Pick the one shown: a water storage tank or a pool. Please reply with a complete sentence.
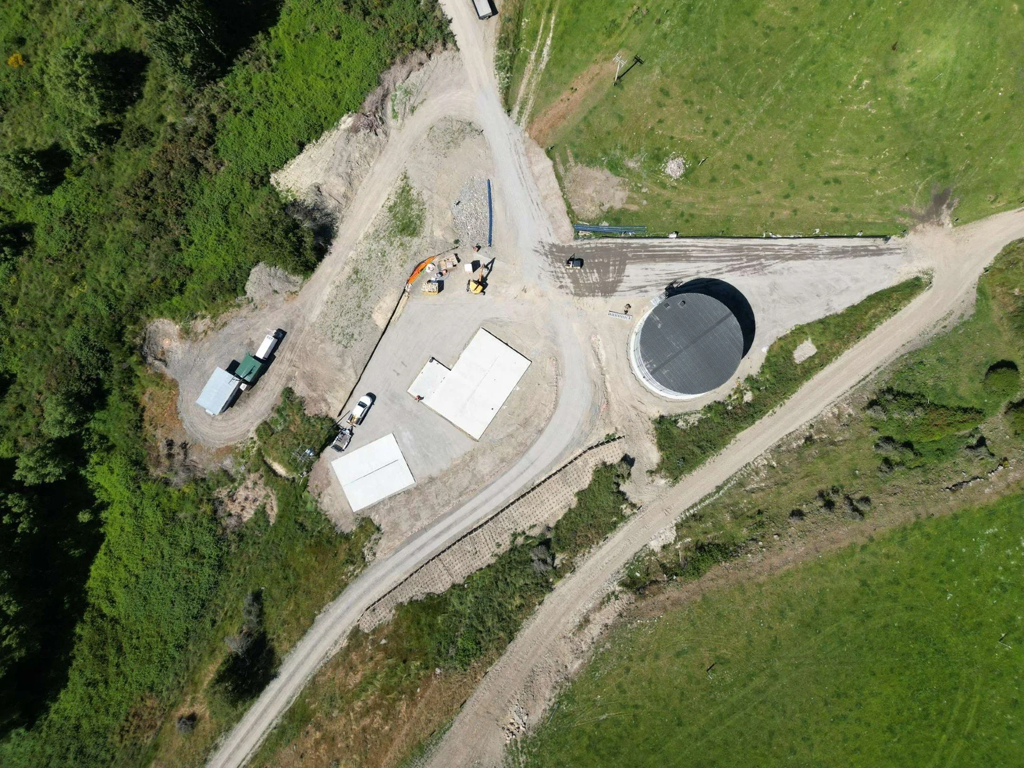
The one in the frame is a water storage tank.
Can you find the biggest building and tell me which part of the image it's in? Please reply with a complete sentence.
The biggest building sits in the left section of the image.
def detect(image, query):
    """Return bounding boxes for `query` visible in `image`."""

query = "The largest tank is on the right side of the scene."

[630,285,744,397]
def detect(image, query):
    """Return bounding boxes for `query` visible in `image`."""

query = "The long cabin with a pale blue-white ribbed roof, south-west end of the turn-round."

[191,367,239,414]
